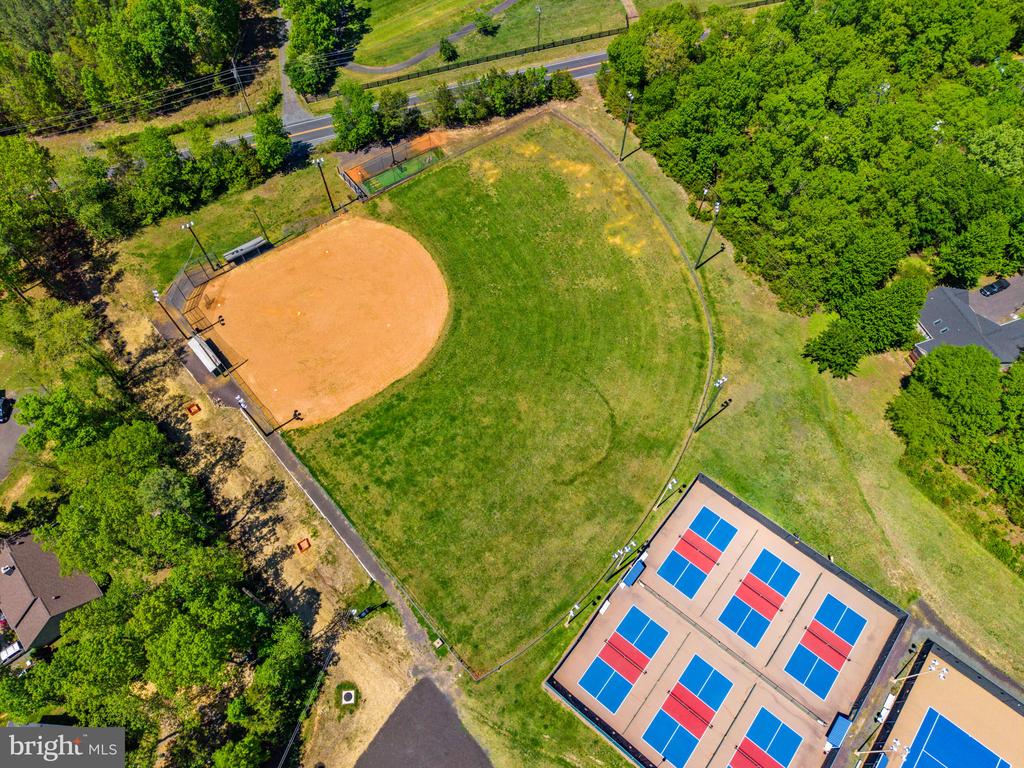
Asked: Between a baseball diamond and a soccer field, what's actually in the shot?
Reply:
baseball diamond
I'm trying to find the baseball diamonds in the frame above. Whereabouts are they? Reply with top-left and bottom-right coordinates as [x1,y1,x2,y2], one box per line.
[184,109,714,682]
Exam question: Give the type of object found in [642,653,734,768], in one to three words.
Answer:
sports court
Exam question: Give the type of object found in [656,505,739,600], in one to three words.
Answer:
sports court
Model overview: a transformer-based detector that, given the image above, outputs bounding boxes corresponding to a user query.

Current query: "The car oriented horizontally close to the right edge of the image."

[980,280,1010,296]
